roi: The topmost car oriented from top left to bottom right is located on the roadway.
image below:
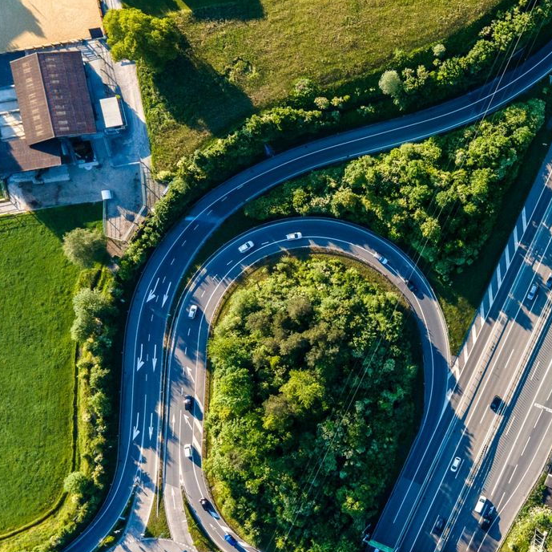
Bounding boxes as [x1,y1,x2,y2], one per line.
[372,253,387,266]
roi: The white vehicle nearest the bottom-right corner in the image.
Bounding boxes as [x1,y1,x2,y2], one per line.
[473,496,486,516]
